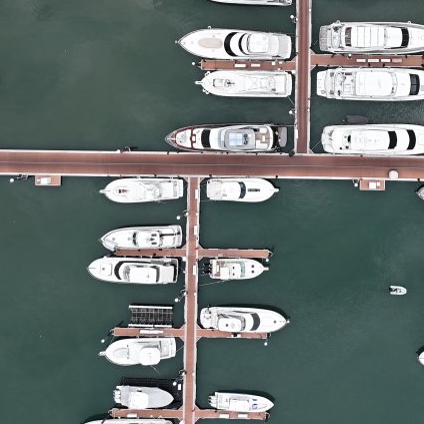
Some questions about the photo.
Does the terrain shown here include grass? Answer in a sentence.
No, the picture contains no grass.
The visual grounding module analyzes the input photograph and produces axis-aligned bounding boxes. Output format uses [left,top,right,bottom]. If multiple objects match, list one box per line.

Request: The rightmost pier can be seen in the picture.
[311,47,424,76]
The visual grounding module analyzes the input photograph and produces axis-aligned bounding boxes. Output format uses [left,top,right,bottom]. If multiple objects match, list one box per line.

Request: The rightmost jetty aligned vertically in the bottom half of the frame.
[182,178,200,424]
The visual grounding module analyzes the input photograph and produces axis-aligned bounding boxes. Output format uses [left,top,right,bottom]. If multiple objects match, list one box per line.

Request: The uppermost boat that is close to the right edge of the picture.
[319,23,424,57]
